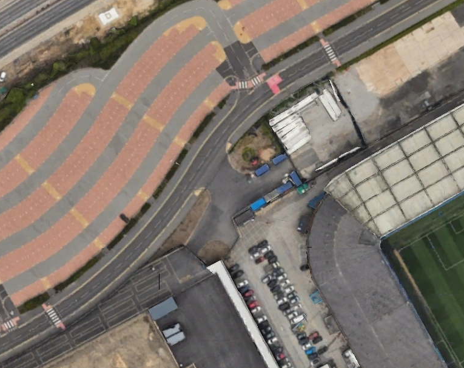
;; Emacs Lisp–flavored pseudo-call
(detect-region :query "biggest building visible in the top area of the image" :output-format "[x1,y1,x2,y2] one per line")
[270,93,320,157]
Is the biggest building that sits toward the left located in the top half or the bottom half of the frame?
bottom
